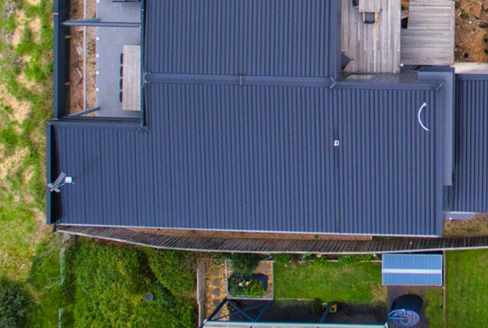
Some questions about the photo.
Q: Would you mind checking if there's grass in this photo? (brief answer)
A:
Yes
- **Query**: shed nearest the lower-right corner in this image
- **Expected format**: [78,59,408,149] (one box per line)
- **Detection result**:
[382,245,443,286]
